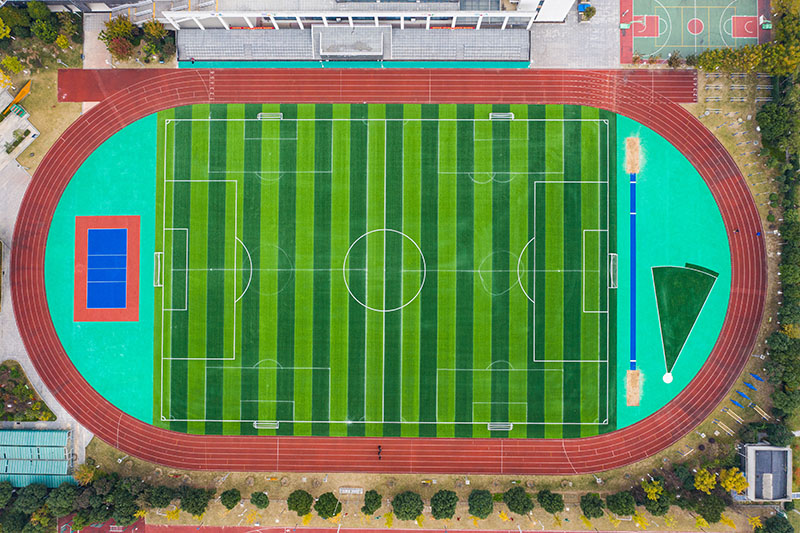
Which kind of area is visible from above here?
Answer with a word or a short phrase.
sports ground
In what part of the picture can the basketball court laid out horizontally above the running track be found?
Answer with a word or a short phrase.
top right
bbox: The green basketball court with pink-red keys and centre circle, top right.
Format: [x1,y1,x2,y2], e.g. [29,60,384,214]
[620,0,771,63]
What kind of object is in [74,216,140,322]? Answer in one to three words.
sports court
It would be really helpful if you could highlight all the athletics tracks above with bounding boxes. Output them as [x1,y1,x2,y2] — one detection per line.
[8,69,769,477]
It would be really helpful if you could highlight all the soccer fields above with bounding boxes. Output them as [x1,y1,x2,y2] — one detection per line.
[152,105,617,439]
